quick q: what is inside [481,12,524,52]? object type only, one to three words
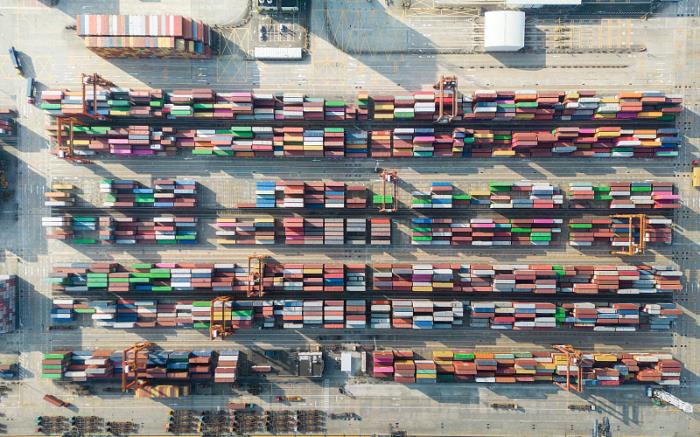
building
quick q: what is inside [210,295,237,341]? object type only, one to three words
container crane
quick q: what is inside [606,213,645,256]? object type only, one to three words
container crane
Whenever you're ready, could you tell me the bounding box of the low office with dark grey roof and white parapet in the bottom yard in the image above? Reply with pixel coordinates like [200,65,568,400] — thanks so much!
[298,351,323,375]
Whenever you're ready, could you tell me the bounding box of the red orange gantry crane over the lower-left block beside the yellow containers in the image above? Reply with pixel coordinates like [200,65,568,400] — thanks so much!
[122,340,155,392]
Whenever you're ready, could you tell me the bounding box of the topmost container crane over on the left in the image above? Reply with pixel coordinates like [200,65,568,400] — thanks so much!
[81,73,117,123]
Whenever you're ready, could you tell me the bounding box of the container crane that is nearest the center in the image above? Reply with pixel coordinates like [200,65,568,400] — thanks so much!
[378,173,399,213]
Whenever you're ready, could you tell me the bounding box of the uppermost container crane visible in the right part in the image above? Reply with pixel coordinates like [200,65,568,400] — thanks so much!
[431,76,456,126]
